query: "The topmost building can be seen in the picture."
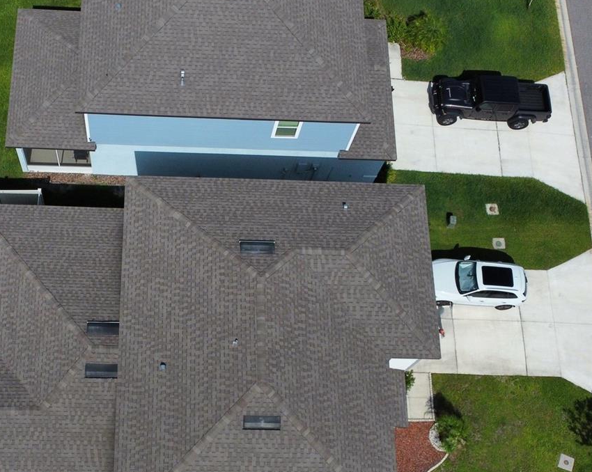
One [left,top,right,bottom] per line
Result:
[5,0,399,183]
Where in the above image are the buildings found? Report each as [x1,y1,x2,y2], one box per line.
[5,0,399,183]
[0,176,441,472]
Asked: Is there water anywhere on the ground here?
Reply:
No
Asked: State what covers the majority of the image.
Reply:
buildings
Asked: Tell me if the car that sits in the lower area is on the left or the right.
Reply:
right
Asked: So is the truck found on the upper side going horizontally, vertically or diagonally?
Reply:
horizontally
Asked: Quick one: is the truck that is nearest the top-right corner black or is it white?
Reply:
black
